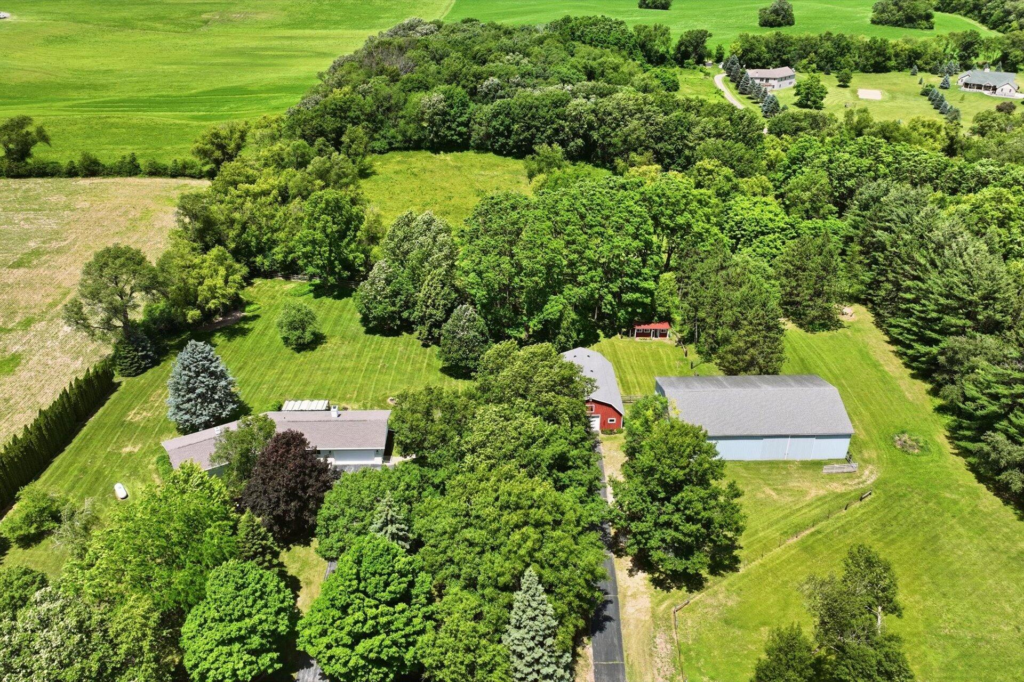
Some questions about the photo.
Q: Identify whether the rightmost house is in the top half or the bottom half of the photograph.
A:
top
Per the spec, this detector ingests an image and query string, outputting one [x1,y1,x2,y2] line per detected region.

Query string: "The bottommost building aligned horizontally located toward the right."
[652,374,859,460]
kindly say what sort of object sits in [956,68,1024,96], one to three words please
house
